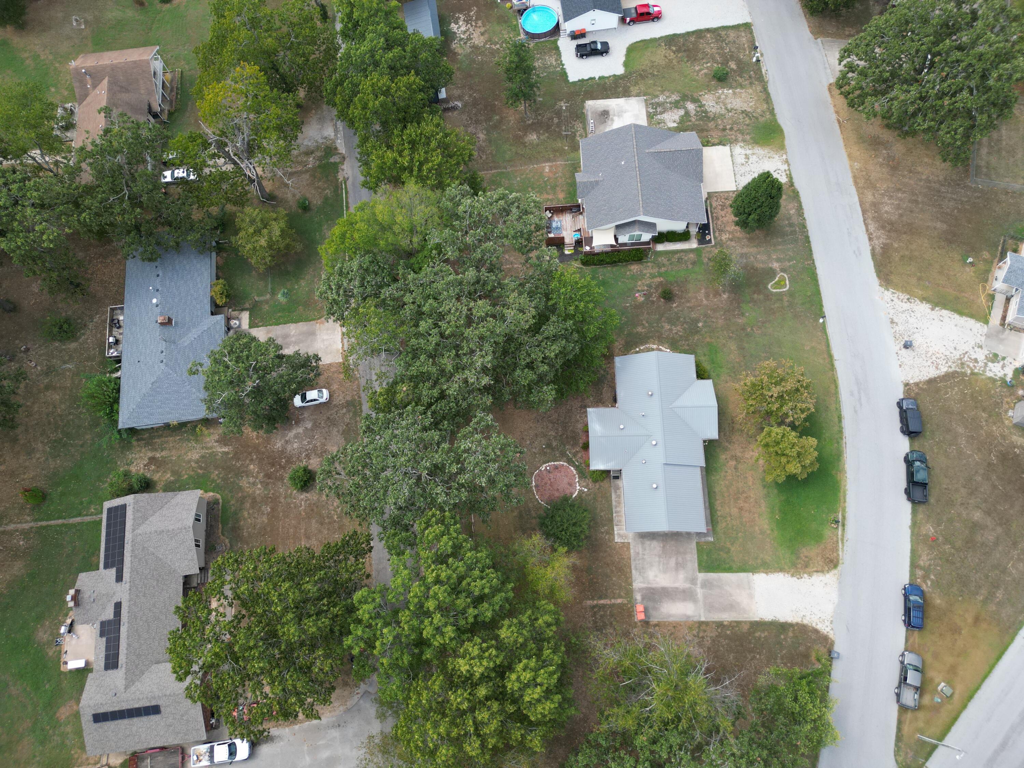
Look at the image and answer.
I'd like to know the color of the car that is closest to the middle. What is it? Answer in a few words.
white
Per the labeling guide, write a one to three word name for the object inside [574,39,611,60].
truck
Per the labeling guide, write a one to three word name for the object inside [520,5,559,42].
swimming pool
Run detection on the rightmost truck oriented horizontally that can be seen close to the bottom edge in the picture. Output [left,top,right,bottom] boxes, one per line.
[190,738,254,768]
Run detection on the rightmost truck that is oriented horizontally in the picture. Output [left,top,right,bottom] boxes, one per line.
[621,4,663,26]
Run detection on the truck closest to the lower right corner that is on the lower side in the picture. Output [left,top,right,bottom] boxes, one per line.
[894,649,923,709]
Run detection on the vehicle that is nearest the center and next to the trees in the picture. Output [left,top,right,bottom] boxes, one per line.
[292,388,331,408]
